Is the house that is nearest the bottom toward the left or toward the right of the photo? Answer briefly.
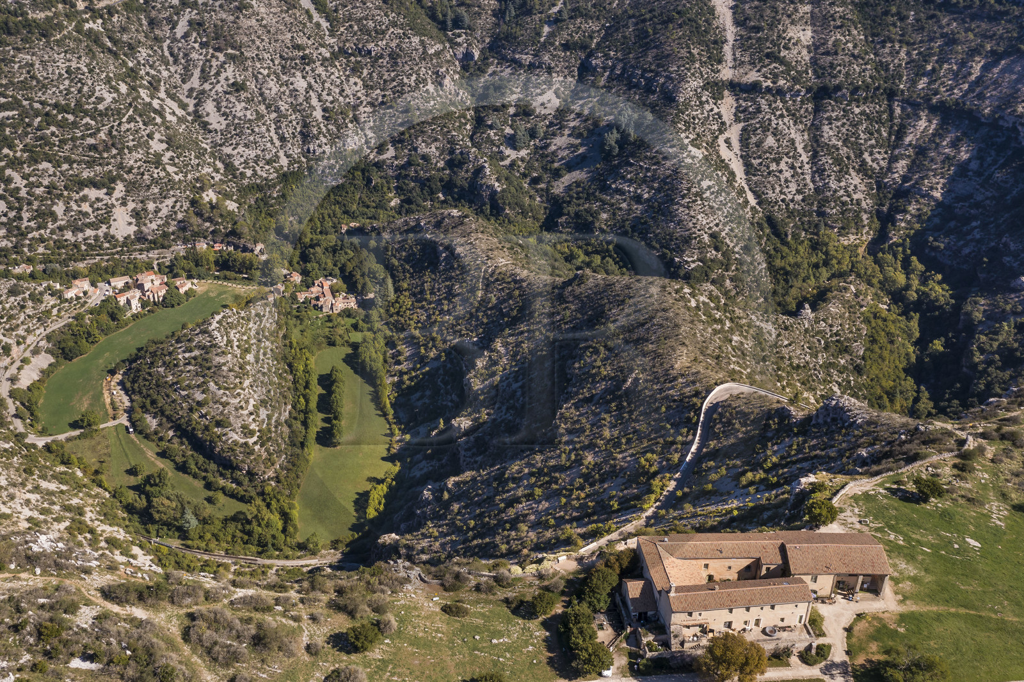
right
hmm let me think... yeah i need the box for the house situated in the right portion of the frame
[625,532,893,647]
